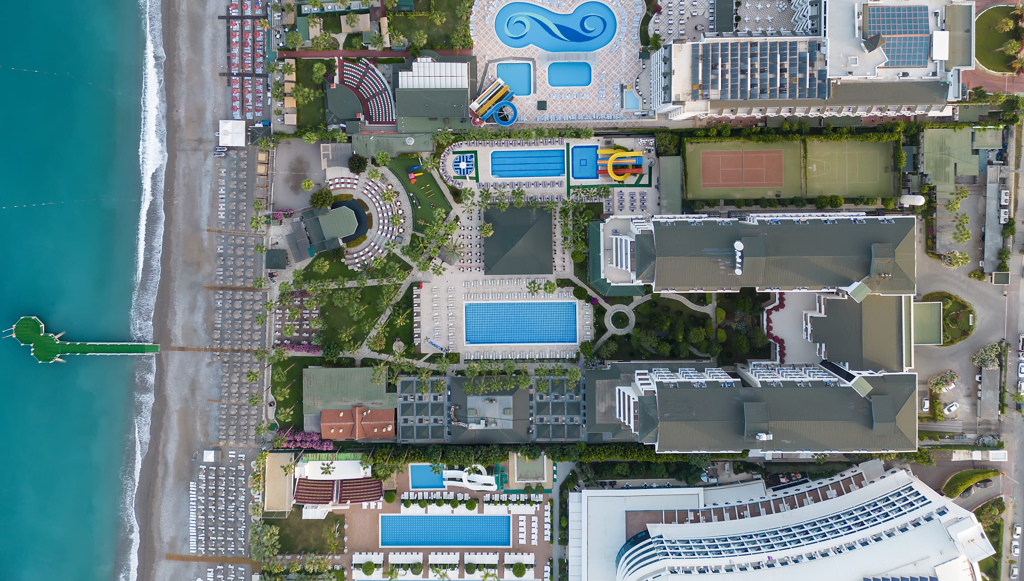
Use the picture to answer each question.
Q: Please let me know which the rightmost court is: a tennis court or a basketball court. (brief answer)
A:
basketball court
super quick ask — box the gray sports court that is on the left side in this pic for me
[272,138,327,210]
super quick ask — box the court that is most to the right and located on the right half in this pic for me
[807,141,894,198]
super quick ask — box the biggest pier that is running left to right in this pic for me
[2,316,162,363]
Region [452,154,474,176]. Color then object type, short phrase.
blue swimming pool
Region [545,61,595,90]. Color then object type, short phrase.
blue swimming pool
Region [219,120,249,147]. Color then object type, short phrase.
white tent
